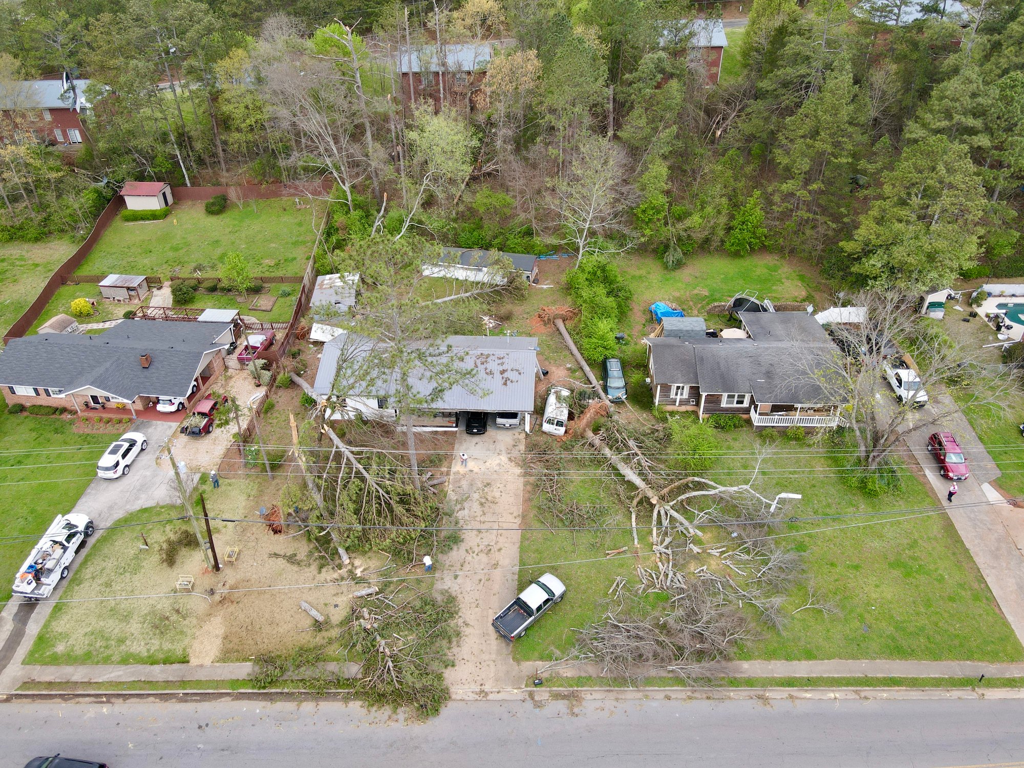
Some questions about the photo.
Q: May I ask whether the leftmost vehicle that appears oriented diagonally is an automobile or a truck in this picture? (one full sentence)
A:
The leftmost vehicle that appears oriented diagonally in the image is a truck.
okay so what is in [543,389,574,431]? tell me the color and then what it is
white van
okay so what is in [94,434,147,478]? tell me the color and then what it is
white car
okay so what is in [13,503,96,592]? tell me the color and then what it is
white truck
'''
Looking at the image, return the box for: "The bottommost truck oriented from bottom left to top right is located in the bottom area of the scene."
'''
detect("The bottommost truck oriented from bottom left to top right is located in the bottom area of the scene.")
[491,570,570,641]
